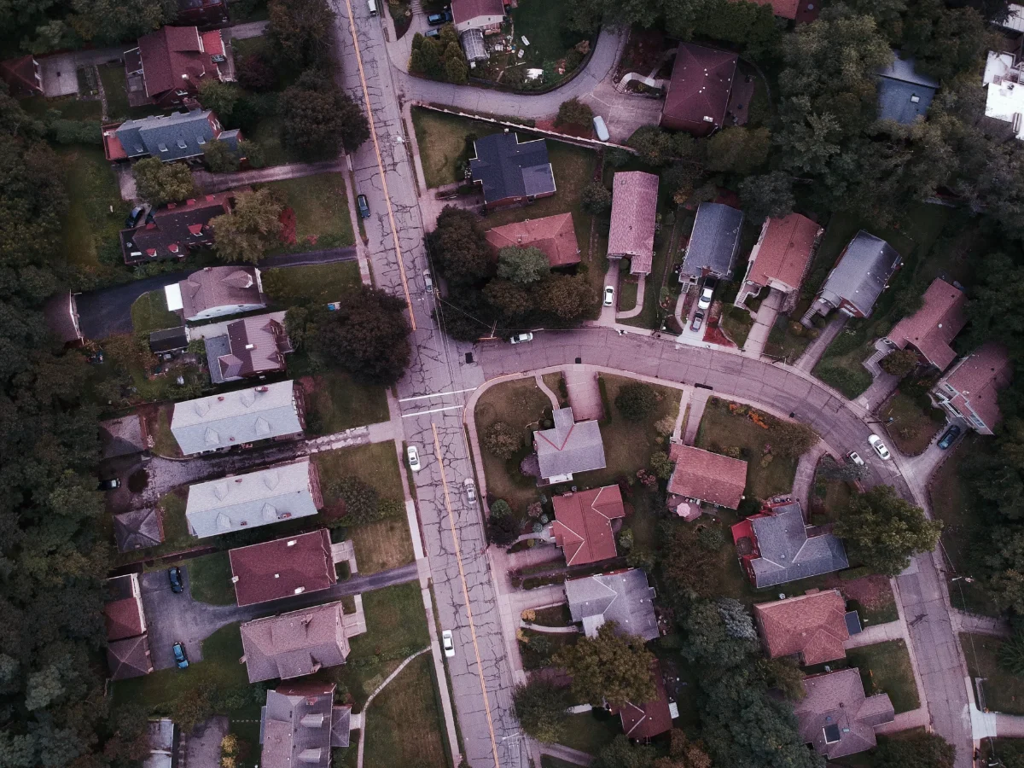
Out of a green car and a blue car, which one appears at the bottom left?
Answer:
blue car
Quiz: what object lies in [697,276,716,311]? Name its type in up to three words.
vehicle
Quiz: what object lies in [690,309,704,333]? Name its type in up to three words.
car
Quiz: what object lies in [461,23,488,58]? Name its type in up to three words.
greenhouse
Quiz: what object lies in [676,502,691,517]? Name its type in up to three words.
umbrella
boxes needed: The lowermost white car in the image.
[442,628,455,656]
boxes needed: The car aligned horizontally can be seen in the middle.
[509,332,534,344]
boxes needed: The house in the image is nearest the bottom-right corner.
[797,663,896,759]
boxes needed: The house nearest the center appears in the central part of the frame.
[532,407,606,487]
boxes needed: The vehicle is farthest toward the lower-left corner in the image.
[172,640,189,670]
